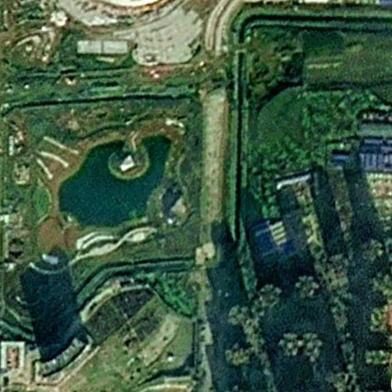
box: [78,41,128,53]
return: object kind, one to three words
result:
building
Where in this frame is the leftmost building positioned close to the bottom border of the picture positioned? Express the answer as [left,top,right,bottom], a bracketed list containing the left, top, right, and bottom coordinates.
[0,341,27,378]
